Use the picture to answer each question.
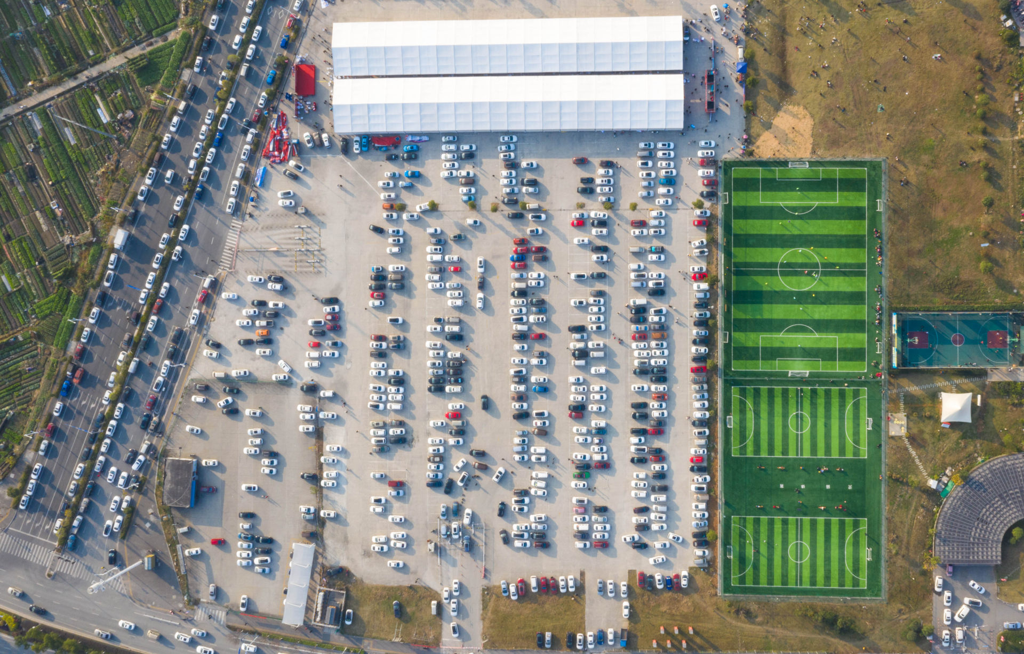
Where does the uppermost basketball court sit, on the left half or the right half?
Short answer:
right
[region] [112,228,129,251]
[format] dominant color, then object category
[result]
white vehicle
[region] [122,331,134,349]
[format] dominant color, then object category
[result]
gray vehicle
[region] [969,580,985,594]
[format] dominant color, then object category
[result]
white car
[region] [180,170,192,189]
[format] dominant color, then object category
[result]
gray vehicle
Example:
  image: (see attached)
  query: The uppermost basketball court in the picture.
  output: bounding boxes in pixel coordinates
[894,311,1024,368]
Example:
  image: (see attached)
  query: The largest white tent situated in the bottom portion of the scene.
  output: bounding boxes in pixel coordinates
[935,391,972,423]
